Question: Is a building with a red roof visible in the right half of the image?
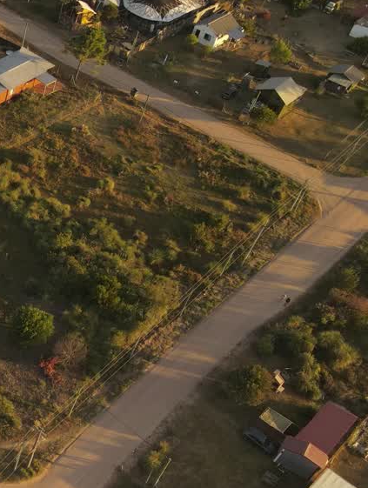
Yes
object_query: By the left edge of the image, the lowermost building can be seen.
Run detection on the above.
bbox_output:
[0,49,70,113]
